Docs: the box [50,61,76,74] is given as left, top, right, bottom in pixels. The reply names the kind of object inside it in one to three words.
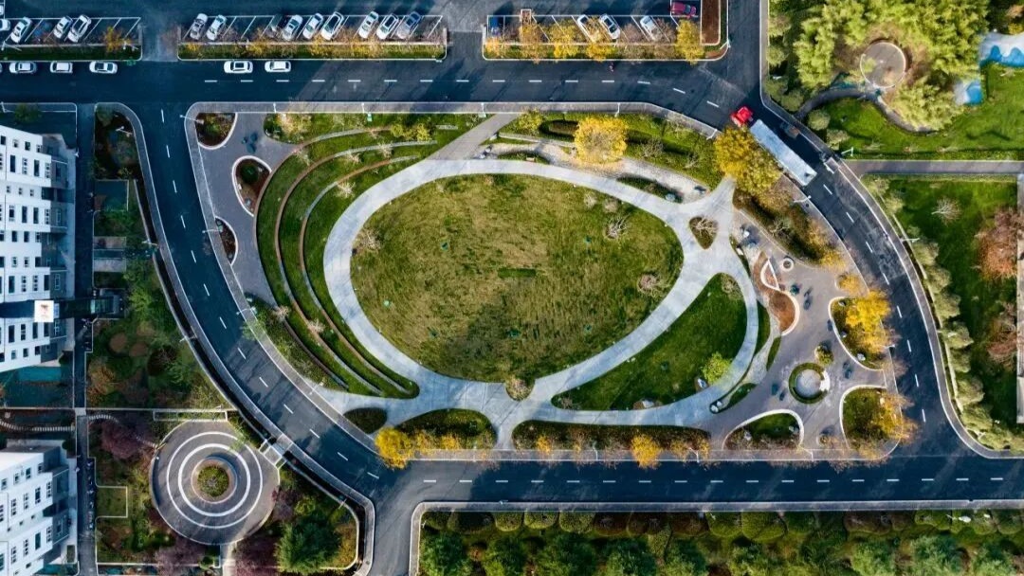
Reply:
vehicle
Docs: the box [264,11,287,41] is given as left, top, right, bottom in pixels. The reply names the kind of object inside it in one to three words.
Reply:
car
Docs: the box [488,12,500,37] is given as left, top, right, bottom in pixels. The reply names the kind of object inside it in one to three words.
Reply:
vehicle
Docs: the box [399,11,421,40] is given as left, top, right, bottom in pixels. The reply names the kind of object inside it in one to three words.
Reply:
car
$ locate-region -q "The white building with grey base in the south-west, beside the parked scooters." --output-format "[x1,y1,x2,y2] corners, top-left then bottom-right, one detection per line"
[0,448,71,576]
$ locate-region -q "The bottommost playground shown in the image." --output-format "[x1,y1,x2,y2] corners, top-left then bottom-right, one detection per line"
[954,79,983,105]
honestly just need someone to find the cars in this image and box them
[206,13,228,43]
[358,11,380,40]
[668,2,698,18]
[32,16,54,40]
[575,14,595,44]
[598,13,621,42]
[0,19,11,32]
[282,13,305,43]
[488,12,500,37]
[264,11,287,41]
[50,61,76,74]
[10,15,34,45]
[302,12,324,41]
[188,12,211,42]
[52,12,75,42]
[224,59,254,74]
[377,12,399,42]
[9,61,40,75]
[68,14,93,44]
[323,12,344,41]
[399,11,421,40]
[265,60,292,74]
[89,61,120,75]
[639,14,661,43]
